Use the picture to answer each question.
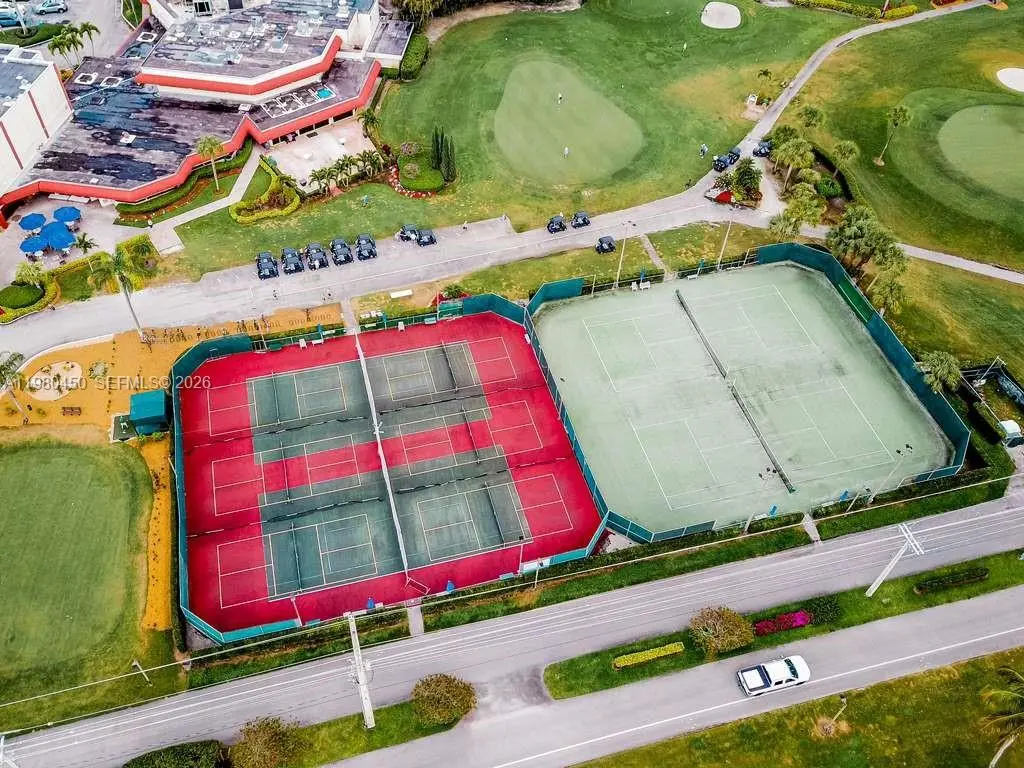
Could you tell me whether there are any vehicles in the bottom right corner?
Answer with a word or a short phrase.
Yes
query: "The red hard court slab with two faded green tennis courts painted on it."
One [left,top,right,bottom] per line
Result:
[180,311,601,635]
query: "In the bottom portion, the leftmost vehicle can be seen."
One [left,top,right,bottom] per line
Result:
[735,658,810,696]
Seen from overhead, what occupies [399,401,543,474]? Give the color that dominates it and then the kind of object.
red sports court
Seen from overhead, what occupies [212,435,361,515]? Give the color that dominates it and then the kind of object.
red sports court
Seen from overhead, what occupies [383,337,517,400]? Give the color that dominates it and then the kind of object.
gray sports court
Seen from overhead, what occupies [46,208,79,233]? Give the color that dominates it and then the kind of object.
blue umbrella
